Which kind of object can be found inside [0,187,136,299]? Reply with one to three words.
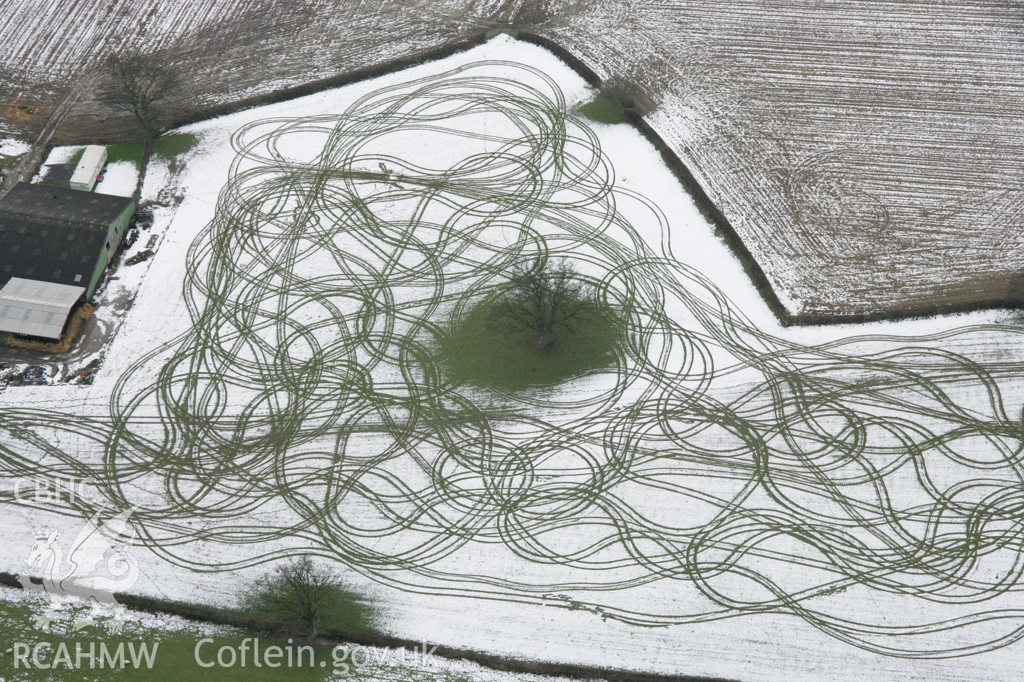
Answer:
barn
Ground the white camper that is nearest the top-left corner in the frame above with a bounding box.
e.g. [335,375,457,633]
[70,146,107,193]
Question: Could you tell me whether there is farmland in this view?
Yes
